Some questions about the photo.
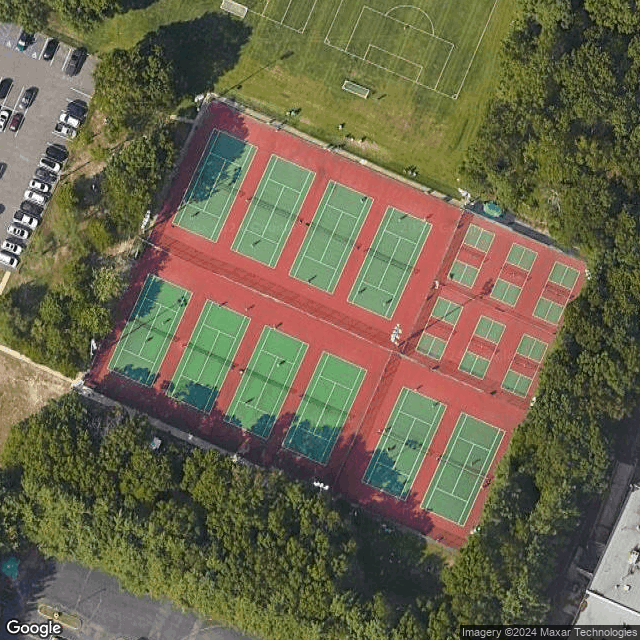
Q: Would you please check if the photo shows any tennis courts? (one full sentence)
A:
Yes, a tennis court can be made out from above.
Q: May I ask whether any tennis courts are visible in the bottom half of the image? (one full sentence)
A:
Yes, I can see a tennis court in the bottom half of the image.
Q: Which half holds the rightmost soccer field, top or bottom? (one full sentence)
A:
The rightmost soccer field is in the top half of the image.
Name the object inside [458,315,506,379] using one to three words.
sports court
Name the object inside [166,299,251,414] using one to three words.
tennis court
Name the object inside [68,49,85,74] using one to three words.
vehicle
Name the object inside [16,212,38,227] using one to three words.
car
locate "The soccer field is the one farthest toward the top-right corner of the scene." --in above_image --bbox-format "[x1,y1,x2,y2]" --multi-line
[324,0,498,99]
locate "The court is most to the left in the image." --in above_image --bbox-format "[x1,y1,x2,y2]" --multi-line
[108,274,193,388]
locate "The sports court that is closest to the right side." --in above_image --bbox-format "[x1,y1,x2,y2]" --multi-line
[532,261,581,326]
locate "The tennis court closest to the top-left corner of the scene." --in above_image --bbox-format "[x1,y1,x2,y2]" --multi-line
[172,129,258,242]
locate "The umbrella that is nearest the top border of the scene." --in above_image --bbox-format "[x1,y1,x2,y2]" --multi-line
[484,202,501,216]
